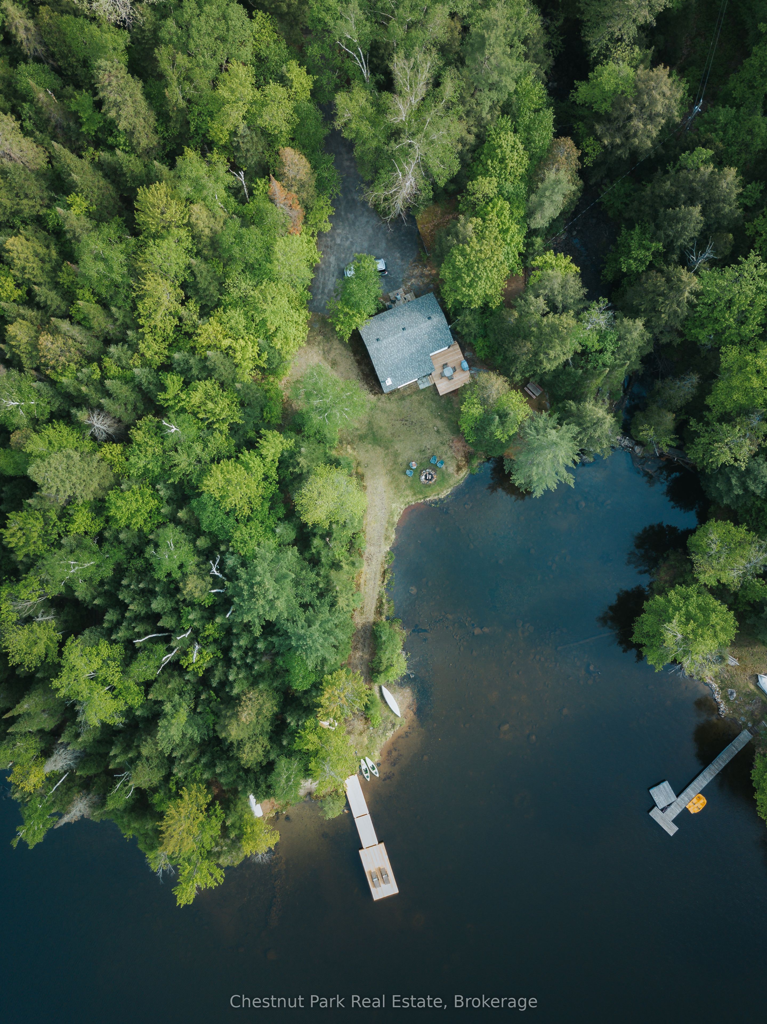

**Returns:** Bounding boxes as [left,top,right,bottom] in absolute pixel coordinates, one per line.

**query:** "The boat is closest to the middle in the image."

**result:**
[381,685,401,718]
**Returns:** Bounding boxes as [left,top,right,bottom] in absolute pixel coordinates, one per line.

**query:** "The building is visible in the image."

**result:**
[360,292,454,394]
